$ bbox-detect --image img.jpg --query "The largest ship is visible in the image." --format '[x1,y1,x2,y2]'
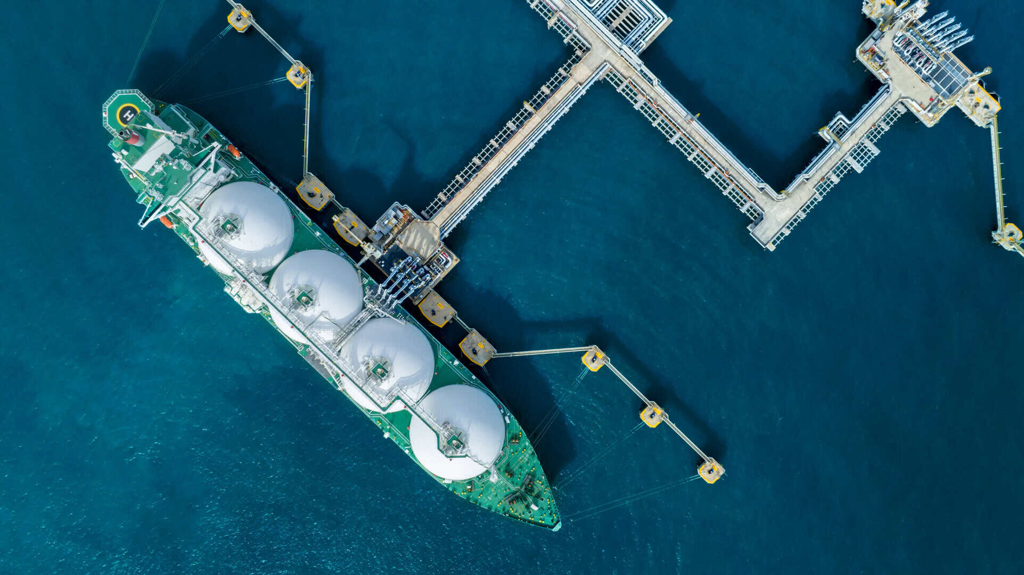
[103,89,561,533]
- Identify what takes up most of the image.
water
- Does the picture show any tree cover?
No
